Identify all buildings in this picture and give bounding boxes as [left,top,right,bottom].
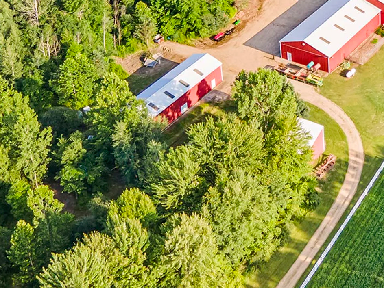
[270,115,326,161]
[279,0,382,73]
[132,52,223,134]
